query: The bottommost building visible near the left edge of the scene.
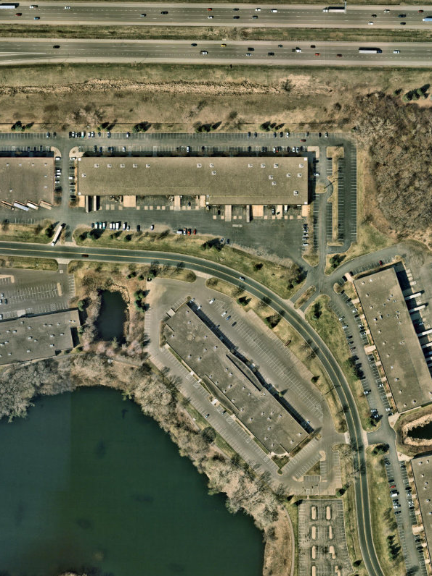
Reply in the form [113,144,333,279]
[0,310,81,364]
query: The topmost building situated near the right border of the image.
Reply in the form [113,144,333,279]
[354,268,432,413]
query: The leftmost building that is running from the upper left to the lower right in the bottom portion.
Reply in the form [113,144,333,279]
[166,304,308,453]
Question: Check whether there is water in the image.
Yes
